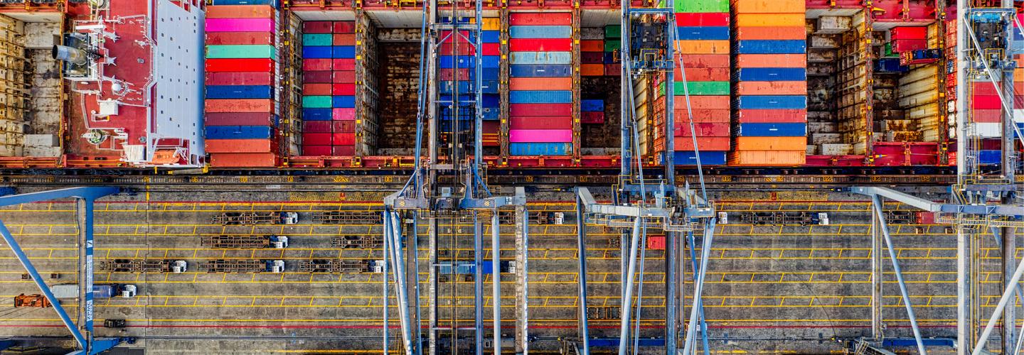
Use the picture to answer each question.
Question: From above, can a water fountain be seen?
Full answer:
No, no water fountain can be seen from above.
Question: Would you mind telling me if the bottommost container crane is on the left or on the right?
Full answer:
The bottommost container crane is on the left side of the image.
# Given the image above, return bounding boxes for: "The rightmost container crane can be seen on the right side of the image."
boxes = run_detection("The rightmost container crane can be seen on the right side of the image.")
[831,0,1024,355]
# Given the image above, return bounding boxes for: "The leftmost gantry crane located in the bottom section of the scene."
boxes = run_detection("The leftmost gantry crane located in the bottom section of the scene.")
[0,185,145,355]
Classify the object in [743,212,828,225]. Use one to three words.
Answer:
vehicle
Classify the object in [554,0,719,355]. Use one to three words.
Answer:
container crane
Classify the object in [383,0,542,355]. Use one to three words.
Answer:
container crane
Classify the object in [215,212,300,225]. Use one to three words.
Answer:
vehicle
